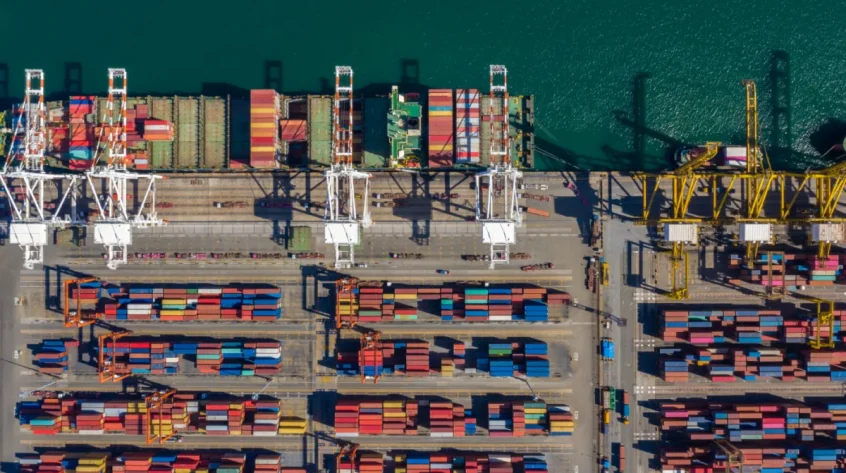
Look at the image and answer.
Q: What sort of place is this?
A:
port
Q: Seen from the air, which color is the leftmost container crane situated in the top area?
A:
white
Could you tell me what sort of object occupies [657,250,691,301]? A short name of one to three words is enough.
container crane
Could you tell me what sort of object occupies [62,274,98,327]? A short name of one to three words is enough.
container crane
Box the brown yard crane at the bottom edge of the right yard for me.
[711,441,746,473]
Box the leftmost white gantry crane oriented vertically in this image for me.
[0,64,97,270]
